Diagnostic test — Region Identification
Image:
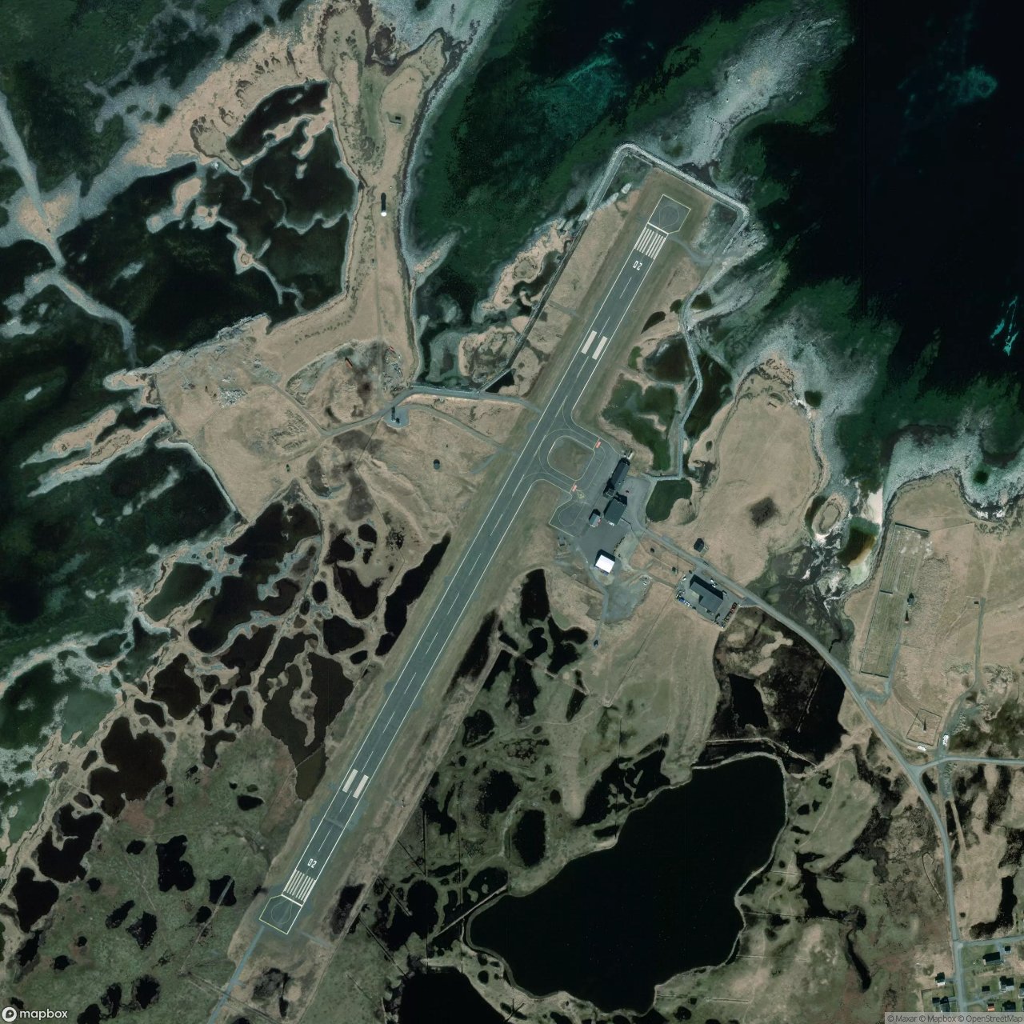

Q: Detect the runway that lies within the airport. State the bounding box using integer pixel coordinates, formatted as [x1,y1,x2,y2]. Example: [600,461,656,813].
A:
[259,194,691,935]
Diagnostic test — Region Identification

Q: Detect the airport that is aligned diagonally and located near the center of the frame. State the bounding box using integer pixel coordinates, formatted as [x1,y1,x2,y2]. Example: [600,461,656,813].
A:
[259,194,691,935]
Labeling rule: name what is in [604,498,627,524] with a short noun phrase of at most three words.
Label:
hangar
